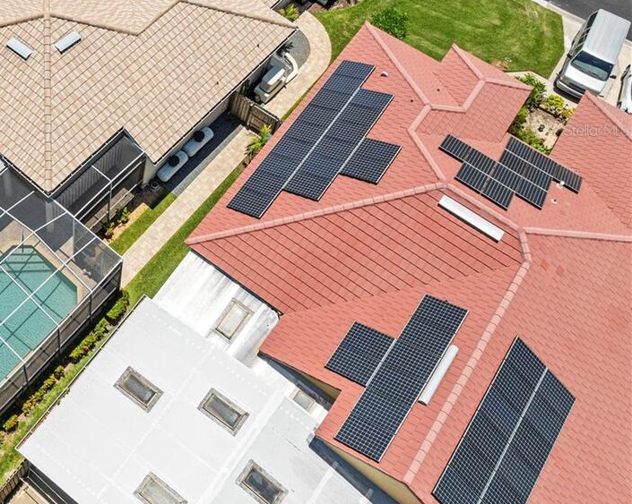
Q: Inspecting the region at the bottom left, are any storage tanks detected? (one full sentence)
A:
No, no storage tank is visible at the bottom left.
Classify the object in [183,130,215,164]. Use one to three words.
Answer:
storage tank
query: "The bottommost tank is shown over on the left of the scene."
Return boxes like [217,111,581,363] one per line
[159,155,193,188]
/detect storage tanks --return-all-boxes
[159,155,193,188]
[183,130,215,164]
